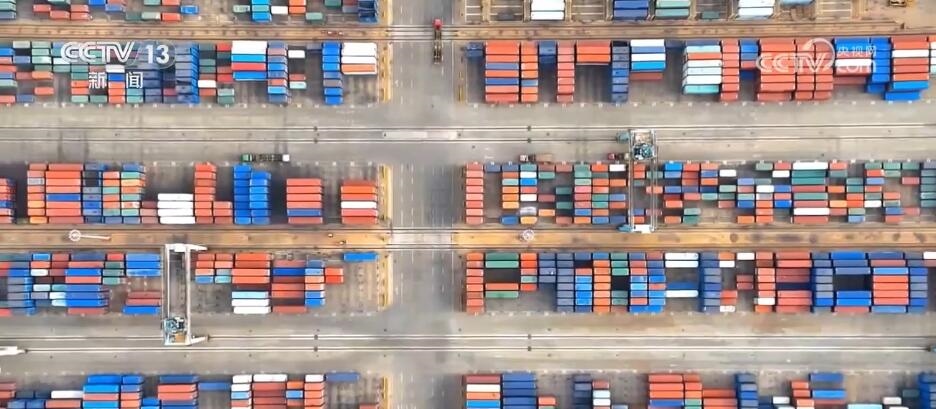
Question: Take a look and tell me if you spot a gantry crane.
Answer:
Yes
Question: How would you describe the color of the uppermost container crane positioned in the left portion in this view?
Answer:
white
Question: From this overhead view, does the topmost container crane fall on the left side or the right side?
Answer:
right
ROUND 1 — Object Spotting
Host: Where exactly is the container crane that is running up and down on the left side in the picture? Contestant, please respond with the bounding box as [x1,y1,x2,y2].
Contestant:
[159,242,210,347]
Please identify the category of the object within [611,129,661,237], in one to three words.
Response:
container crane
